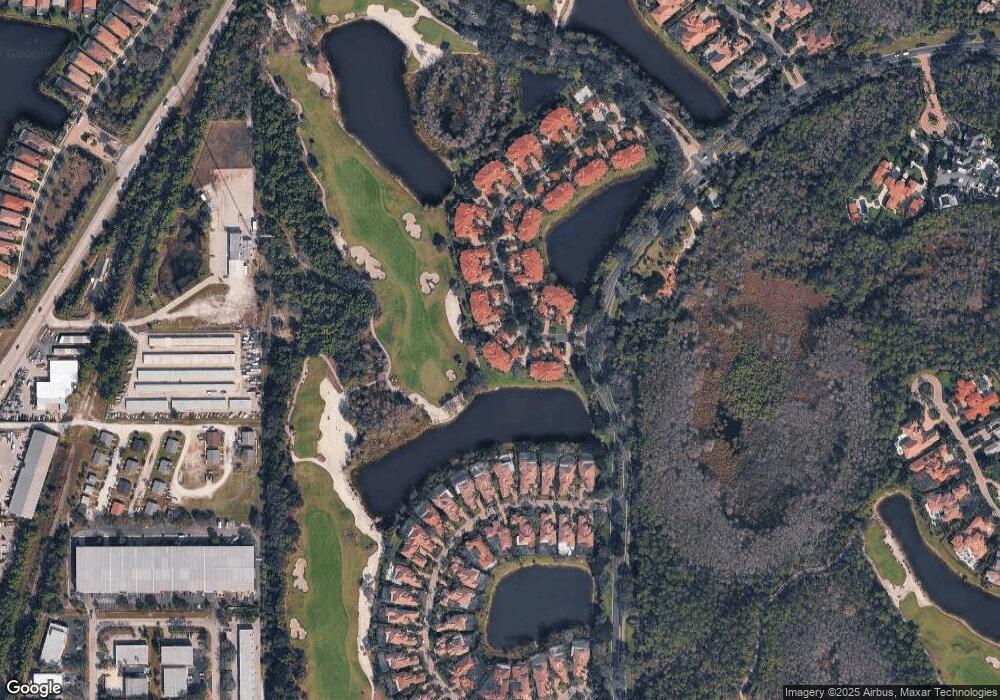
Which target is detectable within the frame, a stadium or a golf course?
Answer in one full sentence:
The one in the frame is a golf course.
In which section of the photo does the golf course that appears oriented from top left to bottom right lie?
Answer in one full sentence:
You can find the golf course that appears oriented from top left to bottom right in the bottom right area of the picture.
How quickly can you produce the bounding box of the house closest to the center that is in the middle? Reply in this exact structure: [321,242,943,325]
[479,333,524,375]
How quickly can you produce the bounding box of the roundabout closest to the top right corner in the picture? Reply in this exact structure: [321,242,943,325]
[919,53,946,135]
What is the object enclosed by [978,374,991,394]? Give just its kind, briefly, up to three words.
swimming pool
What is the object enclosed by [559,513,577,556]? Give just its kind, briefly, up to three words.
house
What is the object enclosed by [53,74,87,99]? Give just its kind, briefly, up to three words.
house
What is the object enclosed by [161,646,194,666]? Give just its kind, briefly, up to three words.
building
